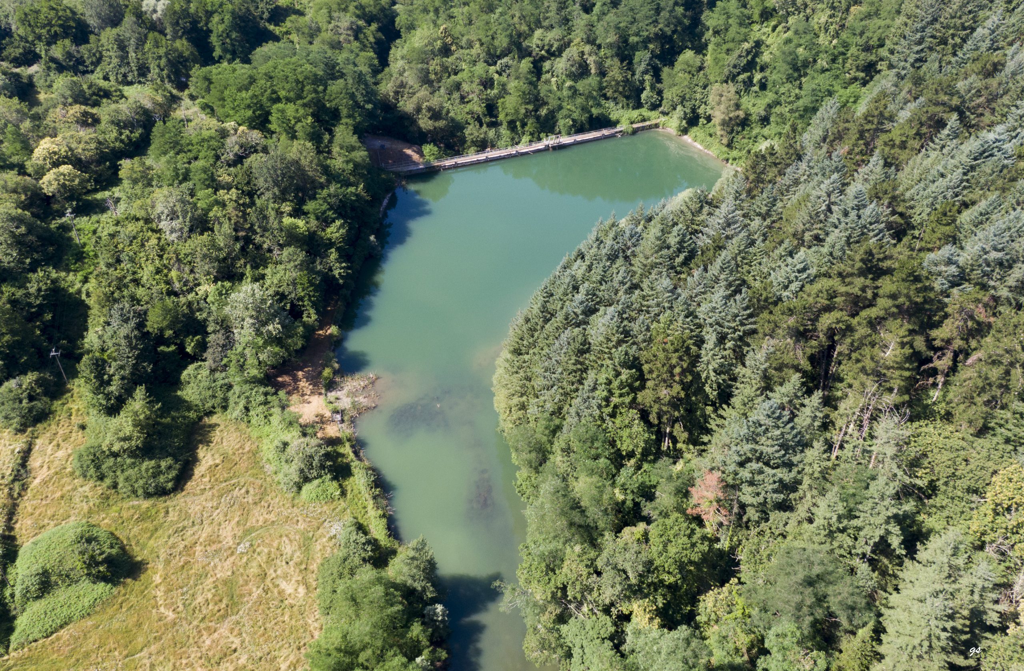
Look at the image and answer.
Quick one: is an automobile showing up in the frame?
No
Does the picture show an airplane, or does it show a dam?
dam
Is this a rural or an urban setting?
rural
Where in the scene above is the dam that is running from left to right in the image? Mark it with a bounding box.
[379,119,661,175]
